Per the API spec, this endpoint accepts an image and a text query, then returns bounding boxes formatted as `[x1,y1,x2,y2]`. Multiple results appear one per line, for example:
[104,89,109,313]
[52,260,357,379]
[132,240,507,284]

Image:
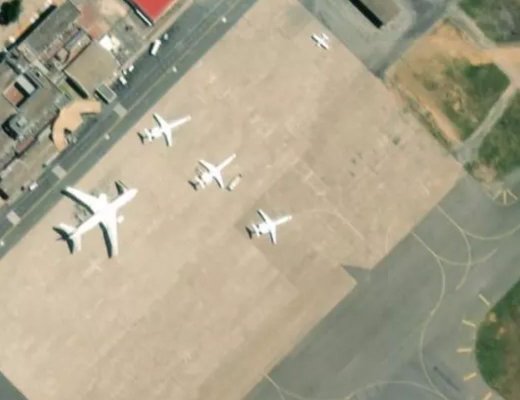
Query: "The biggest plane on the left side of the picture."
[53,188,137,254]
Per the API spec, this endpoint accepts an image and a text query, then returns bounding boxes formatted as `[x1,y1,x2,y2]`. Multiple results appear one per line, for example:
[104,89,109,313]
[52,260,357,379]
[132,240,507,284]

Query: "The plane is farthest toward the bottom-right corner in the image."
[251,209,291,243]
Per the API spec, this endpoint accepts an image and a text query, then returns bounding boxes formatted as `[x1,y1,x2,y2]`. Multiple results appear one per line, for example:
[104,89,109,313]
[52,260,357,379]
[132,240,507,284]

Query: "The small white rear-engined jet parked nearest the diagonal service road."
[145,113,190,146]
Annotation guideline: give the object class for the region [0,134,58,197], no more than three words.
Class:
building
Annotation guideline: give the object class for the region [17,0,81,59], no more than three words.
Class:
building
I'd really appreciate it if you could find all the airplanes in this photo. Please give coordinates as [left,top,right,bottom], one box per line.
[251,209,291,243]
[145,113,190,146]
[312,32,329,48]
[195,155,236,189]
[53,188,137,254]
